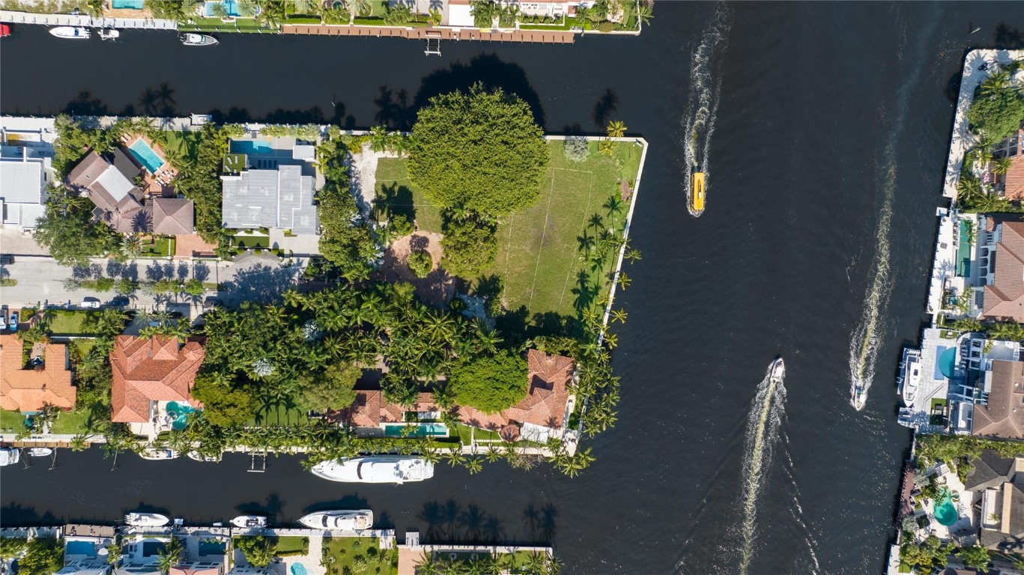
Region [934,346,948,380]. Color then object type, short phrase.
blue swimming pool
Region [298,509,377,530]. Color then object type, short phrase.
white boat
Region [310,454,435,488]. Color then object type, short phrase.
white boat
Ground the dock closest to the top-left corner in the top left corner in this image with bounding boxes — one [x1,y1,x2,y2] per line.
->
[0,9,178,32]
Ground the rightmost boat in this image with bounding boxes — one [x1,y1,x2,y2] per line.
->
[903,351,924,407]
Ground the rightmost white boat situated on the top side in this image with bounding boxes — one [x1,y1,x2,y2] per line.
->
[180,33,219,47]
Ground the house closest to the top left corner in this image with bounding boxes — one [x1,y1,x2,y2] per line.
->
[0,131,60,230]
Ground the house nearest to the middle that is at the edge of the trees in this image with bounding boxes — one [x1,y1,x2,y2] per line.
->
[323,349,575,443]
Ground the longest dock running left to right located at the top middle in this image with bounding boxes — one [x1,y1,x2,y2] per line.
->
[281,24,575,46]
